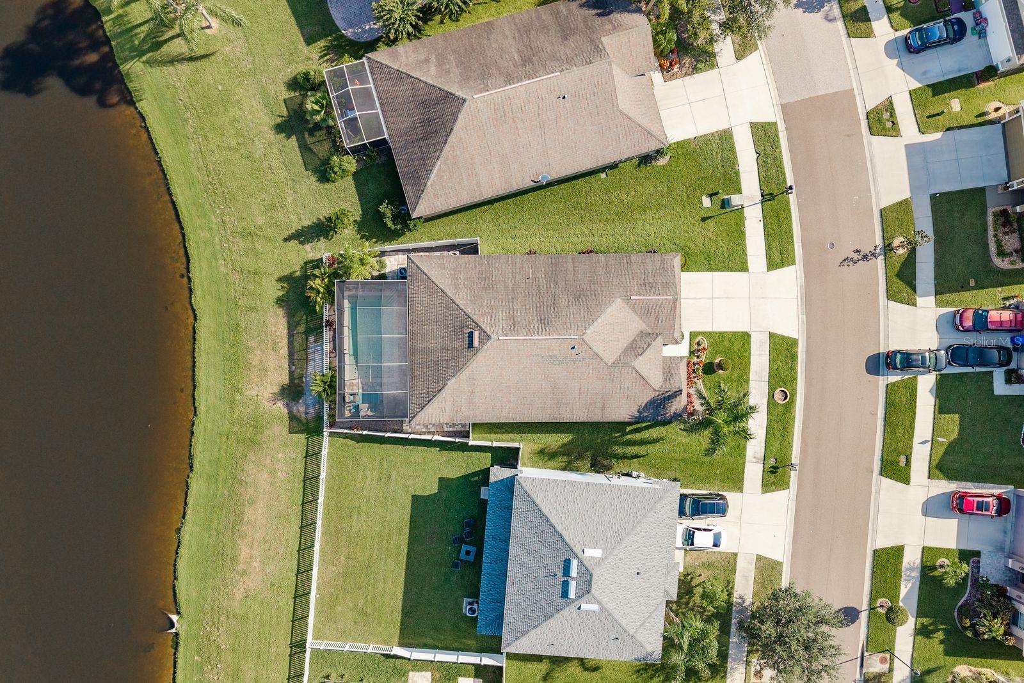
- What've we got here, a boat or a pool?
pool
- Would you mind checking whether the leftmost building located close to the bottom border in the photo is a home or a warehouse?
home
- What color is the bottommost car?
white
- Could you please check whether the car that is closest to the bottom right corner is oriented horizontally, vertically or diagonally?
horizontally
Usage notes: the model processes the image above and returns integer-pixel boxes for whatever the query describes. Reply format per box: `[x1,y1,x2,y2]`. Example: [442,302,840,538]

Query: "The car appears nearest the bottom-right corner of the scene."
[947,489,1011,520]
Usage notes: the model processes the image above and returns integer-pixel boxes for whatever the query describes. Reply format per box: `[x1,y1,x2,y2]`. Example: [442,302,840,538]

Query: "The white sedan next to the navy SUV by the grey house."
[674,522,729,553]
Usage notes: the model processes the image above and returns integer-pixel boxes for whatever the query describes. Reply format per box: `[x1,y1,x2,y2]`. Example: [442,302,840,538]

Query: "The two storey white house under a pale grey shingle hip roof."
[476,460,681,663]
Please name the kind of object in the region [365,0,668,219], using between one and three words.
house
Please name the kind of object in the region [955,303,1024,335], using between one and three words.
car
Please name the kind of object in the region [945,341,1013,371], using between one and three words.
car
